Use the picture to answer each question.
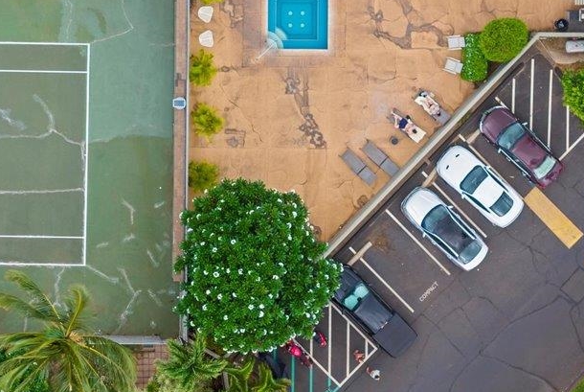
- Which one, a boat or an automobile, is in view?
automobile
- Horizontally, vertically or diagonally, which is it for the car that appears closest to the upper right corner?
diagonally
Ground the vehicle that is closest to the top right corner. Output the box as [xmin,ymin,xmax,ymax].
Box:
[477,108,568,192]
